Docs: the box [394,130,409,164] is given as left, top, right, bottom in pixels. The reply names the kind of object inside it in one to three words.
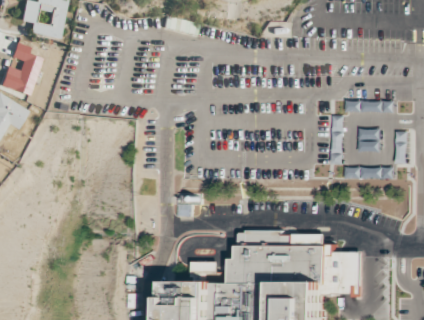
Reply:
building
